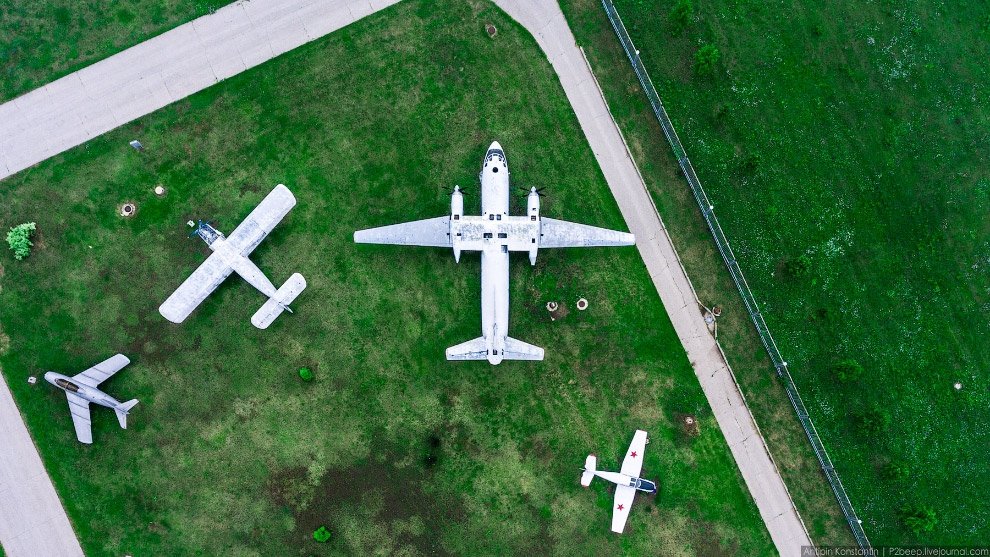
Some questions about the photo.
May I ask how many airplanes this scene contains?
4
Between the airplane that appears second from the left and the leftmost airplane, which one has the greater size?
the airplane that appears second from the left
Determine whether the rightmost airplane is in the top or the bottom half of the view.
bottom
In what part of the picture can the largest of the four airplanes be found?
center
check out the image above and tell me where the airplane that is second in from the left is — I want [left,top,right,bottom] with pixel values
[158,186,302,324]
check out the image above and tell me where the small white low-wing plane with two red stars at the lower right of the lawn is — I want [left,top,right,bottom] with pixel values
[579,431,658,533]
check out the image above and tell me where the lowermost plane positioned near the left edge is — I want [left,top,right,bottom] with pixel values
[44,354,137,443]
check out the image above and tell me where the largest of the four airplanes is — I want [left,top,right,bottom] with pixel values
[356,141,634,366]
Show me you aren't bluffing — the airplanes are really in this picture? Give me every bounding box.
[356,141,634,366]
[579,431,658,533]
[158,186,302,324]
[44,354,137,443]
